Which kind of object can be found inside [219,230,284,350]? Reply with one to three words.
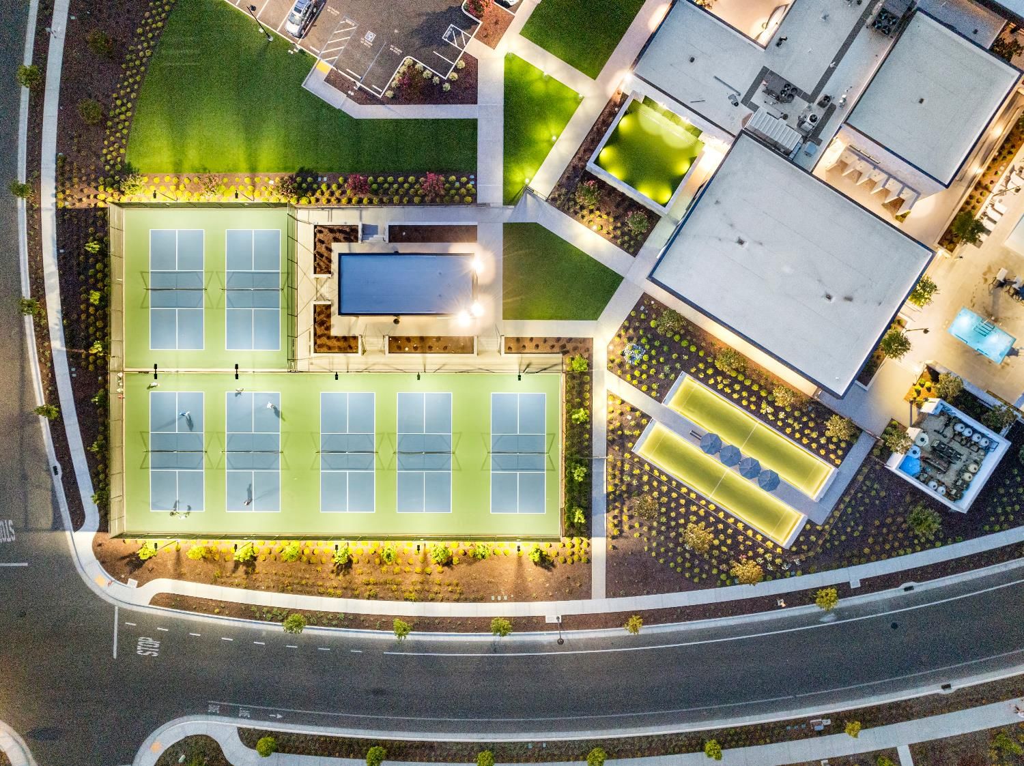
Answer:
sports court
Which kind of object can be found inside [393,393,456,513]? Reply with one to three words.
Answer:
sports court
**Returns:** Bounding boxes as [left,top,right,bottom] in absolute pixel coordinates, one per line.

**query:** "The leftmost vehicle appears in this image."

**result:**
[289,0,320,33]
